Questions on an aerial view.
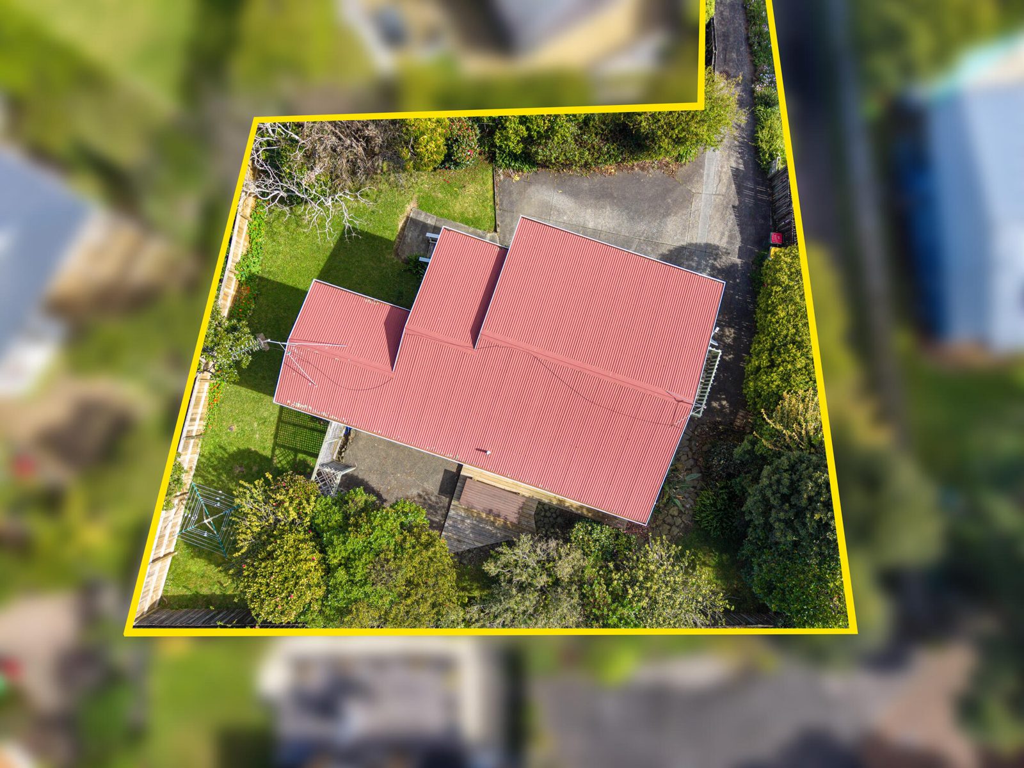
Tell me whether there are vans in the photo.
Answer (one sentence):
No, no van can be seen from above.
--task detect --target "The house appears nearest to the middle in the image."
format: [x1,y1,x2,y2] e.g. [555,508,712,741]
[272,213,727,526]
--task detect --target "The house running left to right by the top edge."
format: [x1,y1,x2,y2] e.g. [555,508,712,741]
[466,0,664,80]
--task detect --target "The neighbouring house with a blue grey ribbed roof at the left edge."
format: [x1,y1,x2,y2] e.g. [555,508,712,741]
[0,152,121,363]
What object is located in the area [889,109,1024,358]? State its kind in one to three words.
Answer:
house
